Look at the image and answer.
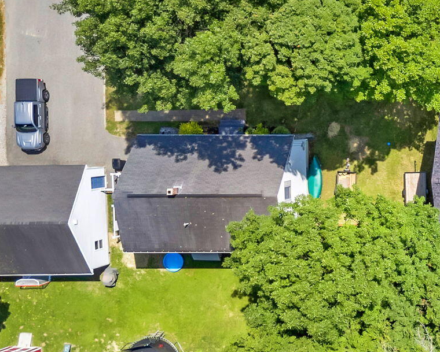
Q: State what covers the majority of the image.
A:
trees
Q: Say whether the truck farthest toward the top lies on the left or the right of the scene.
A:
left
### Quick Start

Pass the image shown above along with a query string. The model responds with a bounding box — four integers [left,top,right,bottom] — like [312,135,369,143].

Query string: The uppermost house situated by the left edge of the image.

[0,163,112,277]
